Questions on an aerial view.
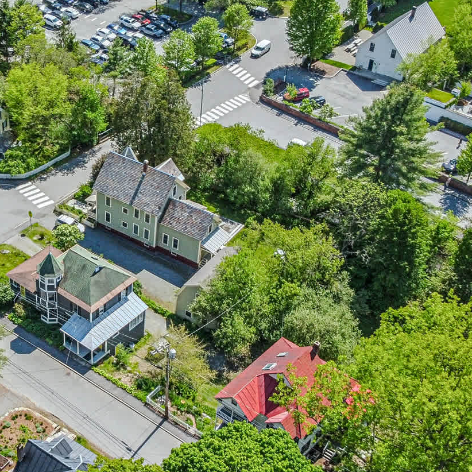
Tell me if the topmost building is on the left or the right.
right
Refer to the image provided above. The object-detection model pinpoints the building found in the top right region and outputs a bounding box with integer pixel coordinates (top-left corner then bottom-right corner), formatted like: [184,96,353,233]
[345,1,446,82]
